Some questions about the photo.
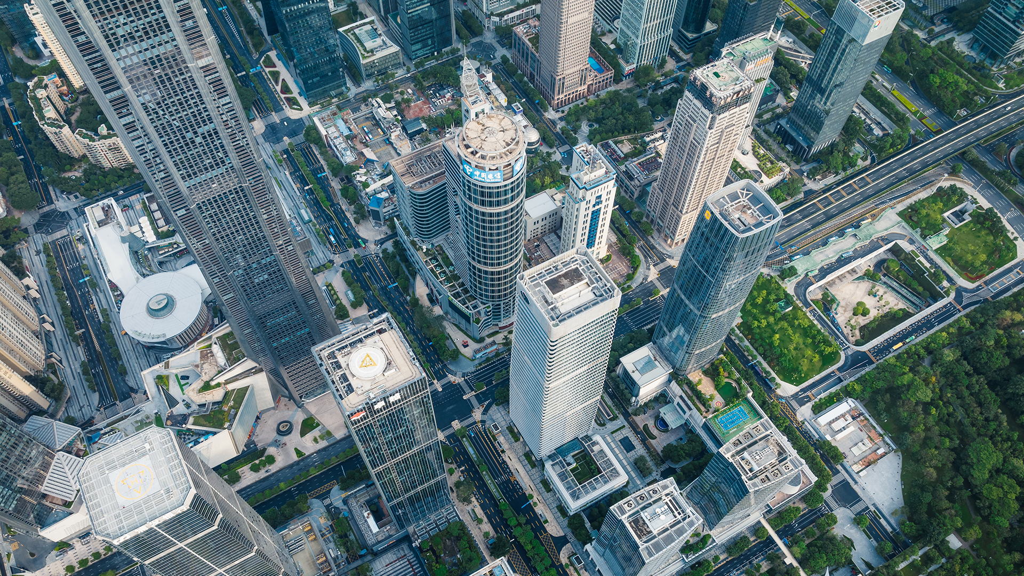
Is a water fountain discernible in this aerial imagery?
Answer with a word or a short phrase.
Yes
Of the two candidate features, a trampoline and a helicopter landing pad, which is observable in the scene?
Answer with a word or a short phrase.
helicopter landing pad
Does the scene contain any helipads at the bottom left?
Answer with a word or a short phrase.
Yes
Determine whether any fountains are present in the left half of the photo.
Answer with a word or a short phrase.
Yes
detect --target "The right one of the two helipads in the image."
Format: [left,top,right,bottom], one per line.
[349,346,388,382]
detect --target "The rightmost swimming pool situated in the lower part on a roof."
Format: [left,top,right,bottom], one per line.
[554,438,582,462]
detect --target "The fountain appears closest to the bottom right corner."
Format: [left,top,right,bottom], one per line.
[652,413,672,433]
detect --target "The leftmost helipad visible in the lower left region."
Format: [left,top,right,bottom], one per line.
[104,446,159,507]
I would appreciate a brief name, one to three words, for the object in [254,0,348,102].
building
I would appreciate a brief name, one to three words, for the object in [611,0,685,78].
building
